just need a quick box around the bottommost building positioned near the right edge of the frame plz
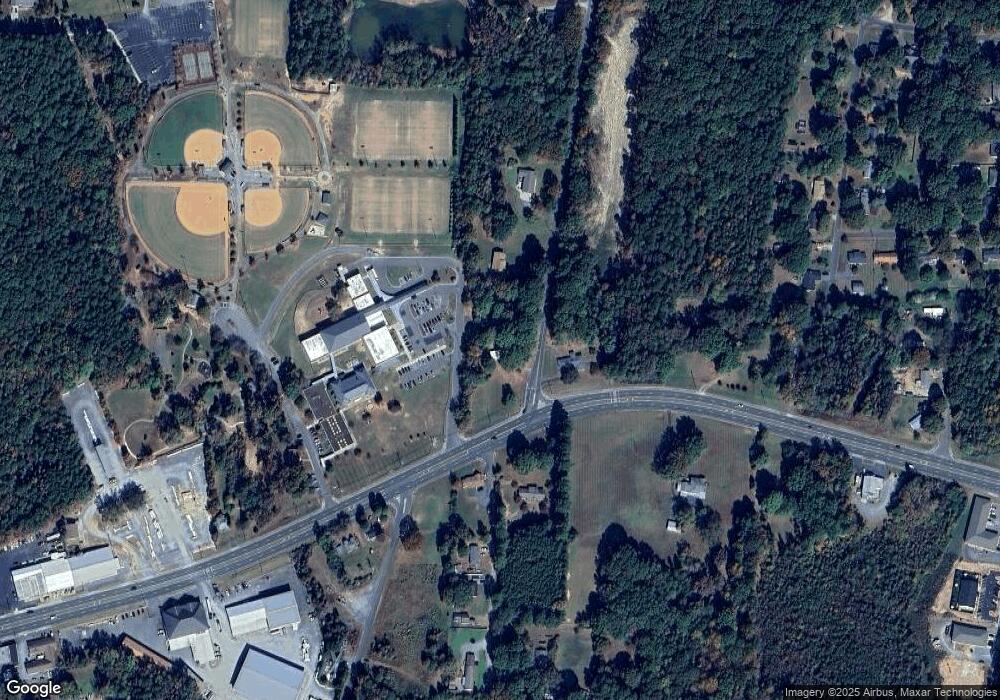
[950,622,988,646]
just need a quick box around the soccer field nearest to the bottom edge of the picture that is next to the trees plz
[351,176,451,233]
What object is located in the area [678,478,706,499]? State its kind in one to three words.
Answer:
house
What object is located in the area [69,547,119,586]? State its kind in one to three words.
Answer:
building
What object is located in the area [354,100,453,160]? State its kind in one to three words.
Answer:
soccer field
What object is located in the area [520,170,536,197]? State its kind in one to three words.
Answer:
house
